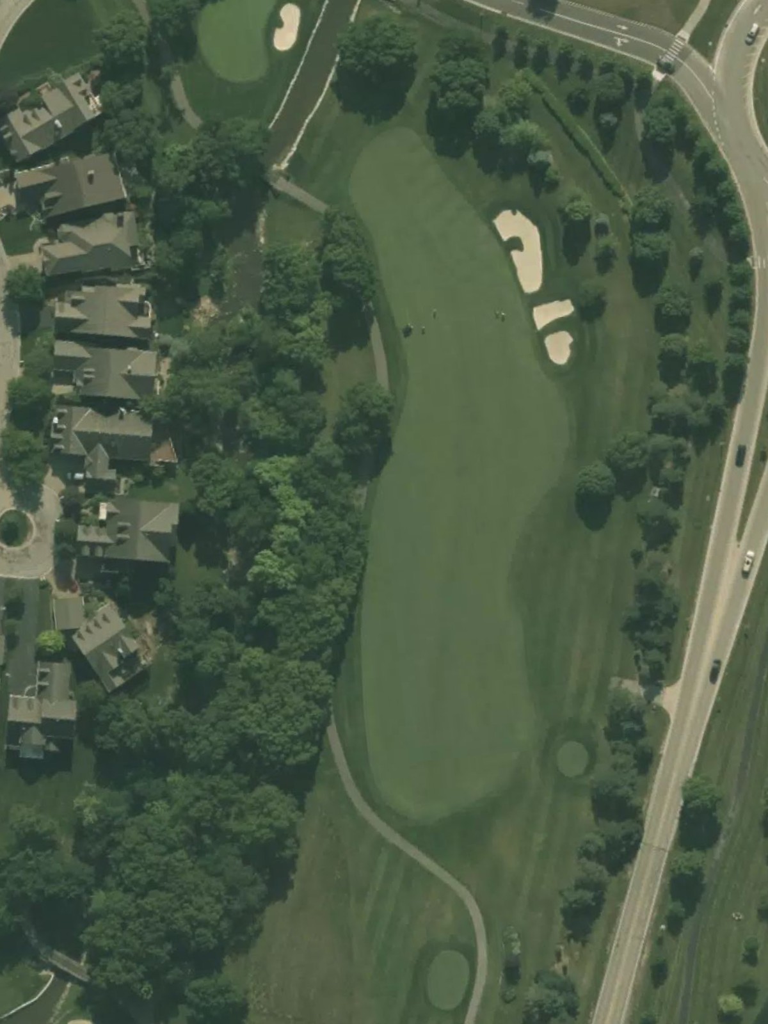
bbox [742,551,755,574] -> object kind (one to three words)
vehicle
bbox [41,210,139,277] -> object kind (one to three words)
house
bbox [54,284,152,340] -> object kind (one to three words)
house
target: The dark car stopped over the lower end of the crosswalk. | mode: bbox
[656,56,677,73]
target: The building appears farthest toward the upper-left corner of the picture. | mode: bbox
[0,73,101,163]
